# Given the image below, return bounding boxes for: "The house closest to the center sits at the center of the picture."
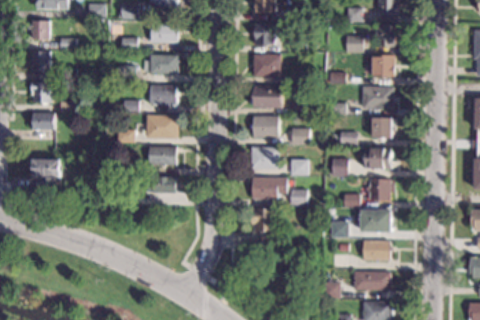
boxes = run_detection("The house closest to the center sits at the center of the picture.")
[250,147,280,172]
